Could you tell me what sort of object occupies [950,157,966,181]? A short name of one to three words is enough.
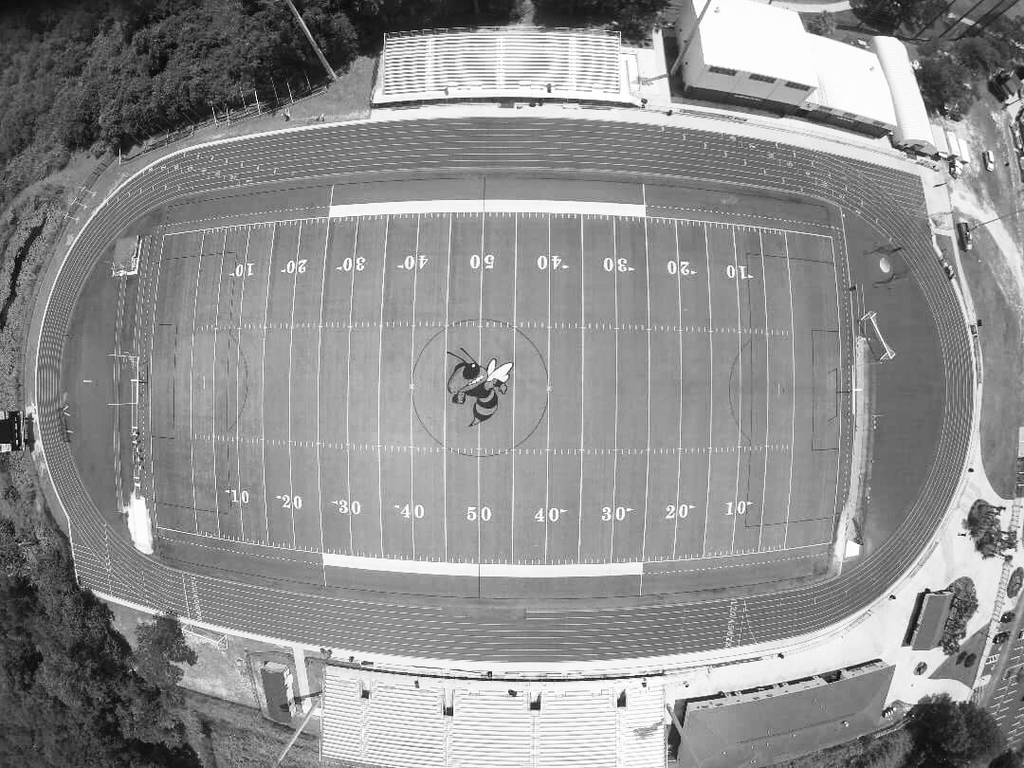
vehicle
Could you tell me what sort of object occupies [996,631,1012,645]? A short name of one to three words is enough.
car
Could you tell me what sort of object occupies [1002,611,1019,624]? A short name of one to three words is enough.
vehicle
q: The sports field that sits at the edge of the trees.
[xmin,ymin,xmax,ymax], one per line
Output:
[139,174,853,604]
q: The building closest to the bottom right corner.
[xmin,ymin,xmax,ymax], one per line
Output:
[895,589,954,652]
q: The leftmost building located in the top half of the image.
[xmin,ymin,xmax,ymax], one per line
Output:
[673,0,821,112]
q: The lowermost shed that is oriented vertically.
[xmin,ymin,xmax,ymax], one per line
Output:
[262,653,298,722]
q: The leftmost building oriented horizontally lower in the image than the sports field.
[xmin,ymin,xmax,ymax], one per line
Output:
[673,658,896,768]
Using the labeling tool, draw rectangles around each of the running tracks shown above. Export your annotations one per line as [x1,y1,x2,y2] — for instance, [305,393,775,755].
[35,114,977,669]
